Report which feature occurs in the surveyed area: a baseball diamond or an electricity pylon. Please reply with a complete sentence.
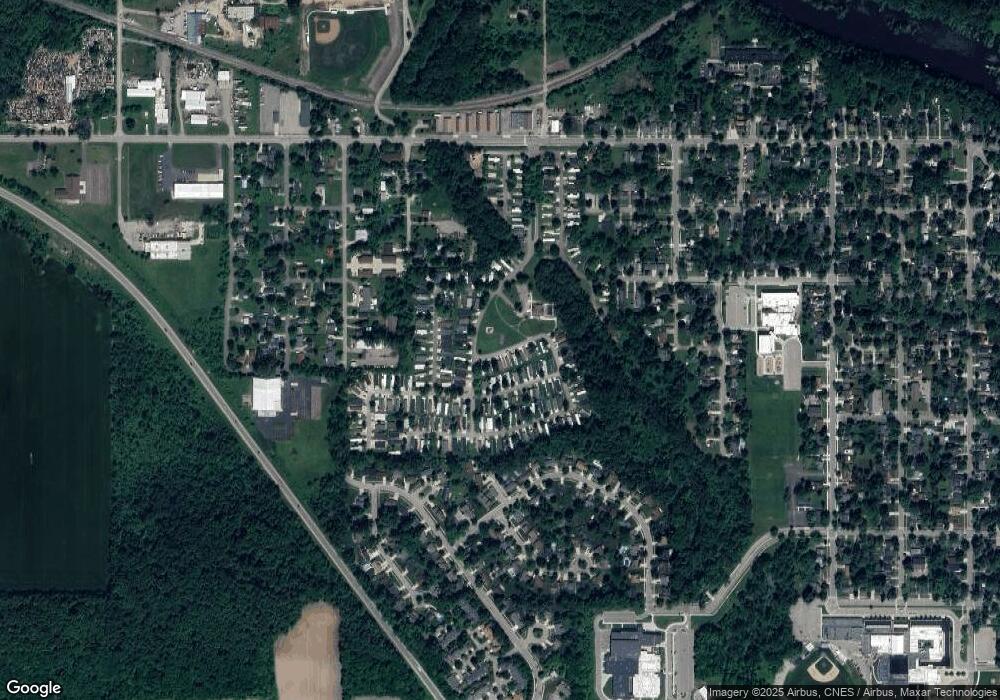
Looking from above, you can make out a baseball diamond.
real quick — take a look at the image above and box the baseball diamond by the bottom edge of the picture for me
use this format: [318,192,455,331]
[787,644,868,700]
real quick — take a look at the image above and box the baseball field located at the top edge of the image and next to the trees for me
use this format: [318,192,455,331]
[308,7,390,95]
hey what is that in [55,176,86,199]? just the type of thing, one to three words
building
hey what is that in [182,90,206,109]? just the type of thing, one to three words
building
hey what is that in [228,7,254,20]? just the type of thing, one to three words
barn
